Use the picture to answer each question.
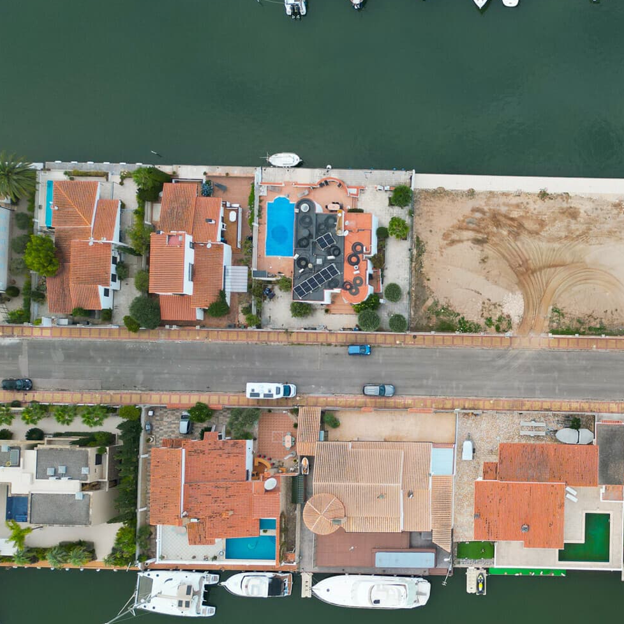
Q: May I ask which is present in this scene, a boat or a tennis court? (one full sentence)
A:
There is a boat in the scene.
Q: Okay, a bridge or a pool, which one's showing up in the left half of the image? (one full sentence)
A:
It is a pool that can be seen in the left half of the image.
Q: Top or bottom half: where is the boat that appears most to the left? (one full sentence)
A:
You can find the boat that appears most to the left in the bottom half.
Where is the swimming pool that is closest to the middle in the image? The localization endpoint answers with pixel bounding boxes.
[265,195,295,257]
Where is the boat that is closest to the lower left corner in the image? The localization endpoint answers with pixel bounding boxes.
[110,570,222,624]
